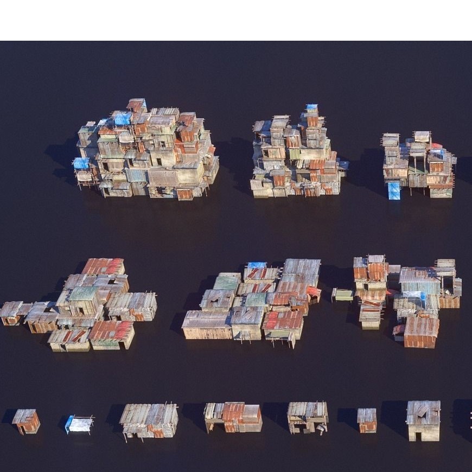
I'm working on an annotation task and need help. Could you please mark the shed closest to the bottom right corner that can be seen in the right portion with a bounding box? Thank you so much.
[406,399,444,441]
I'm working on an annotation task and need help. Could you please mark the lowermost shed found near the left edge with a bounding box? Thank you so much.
[10,408,41,437]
